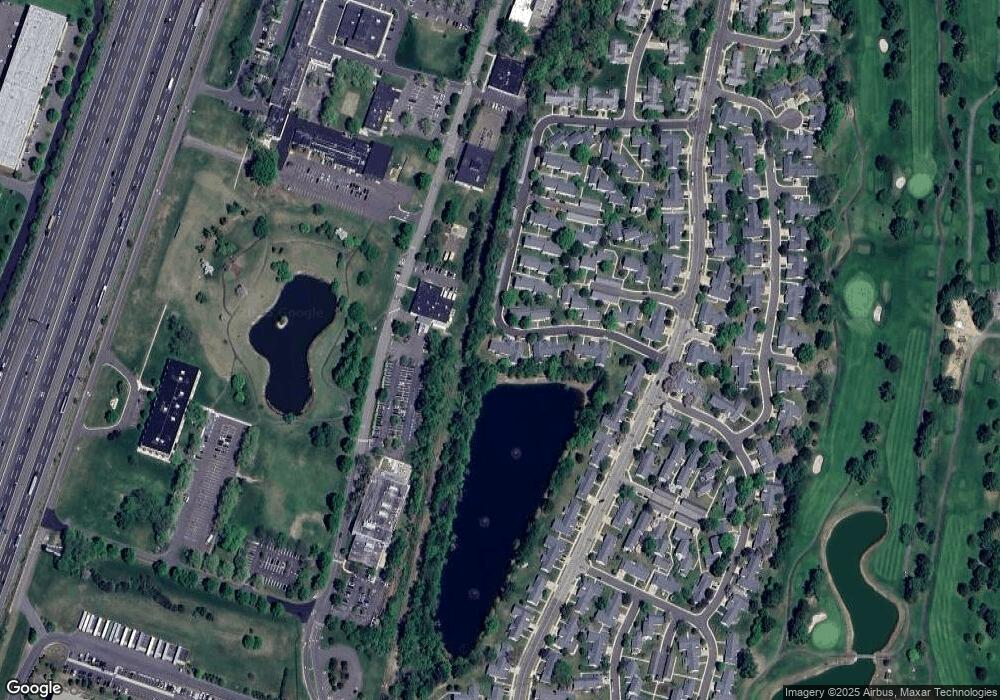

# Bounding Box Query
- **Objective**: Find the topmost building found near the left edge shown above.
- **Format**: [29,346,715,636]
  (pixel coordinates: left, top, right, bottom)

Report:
[0,5,68,170]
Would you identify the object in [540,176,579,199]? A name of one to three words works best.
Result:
house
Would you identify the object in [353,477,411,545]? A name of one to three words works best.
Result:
building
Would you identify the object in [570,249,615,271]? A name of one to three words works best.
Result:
house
